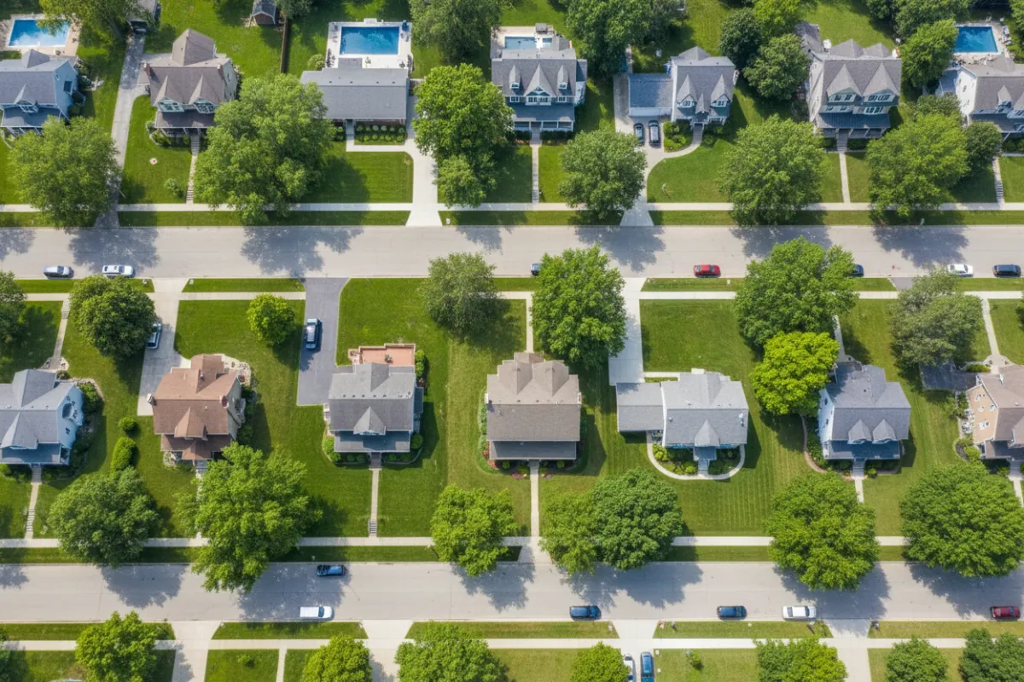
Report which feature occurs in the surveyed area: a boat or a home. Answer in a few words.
home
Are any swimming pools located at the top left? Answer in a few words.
Yes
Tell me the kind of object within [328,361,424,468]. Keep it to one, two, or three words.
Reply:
house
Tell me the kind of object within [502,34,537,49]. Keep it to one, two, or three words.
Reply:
swimming pool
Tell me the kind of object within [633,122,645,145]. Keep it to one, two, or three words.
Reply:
vehicle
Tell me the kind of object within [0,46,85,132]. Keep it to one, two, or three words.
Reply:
house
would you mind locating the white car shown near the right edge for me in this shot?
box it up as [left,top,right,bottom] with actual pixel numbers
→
[946,263,973,276]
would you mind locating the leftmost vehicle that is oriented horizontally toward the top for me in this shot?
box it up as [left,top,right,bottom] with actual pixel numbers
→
[42,265,75,278]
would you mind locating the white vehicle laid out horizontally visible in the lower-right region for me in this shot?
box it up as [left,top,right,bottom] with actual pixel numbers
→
[782,605,816,620]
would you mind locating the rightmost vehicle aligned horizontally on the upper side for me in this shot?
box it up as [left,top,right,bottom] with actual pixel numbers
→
[991,263,1021,277]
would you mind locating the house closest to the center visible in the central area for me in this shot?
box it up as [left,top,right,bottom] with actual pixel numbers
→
[482,353,583,471]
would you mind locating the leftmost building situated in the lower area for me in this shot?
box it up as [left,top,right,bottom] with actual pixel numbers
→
[0,367,94,481]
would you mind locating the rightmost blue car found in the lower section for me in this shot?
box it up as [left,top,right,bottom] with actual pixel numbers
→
[716,605,747,620]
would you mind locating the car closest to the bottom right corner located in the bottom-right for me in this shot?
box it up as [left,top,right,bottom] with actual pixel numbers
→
[989,605,1020,620]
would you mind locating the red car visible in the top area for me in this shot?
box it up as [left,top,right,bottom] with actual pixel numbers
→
[693,264,721,276]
